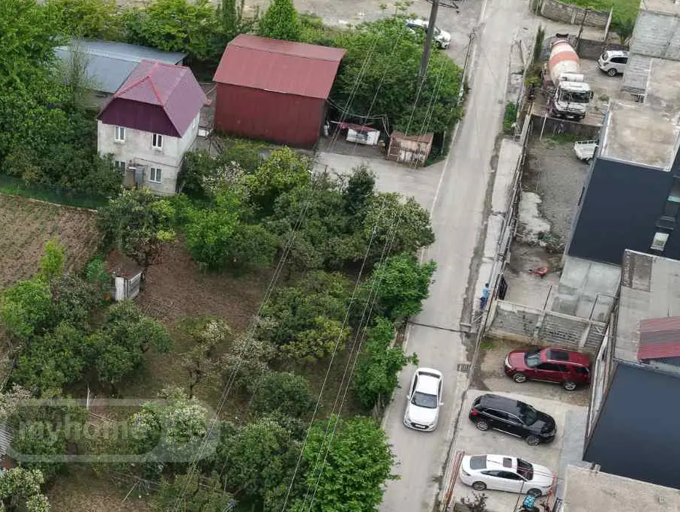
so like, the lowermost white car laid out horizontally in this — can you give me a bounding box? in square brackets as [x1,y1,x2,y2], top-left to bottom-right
[459,452,555,497]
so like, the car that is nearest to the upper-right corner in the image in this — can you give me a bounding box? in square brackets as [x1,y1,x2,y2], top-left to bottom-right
[599,47,631,75]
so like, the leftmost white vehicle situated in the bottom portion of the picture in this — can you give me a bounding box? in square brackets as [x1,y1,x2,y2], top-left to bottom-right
[405,366,447,429]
